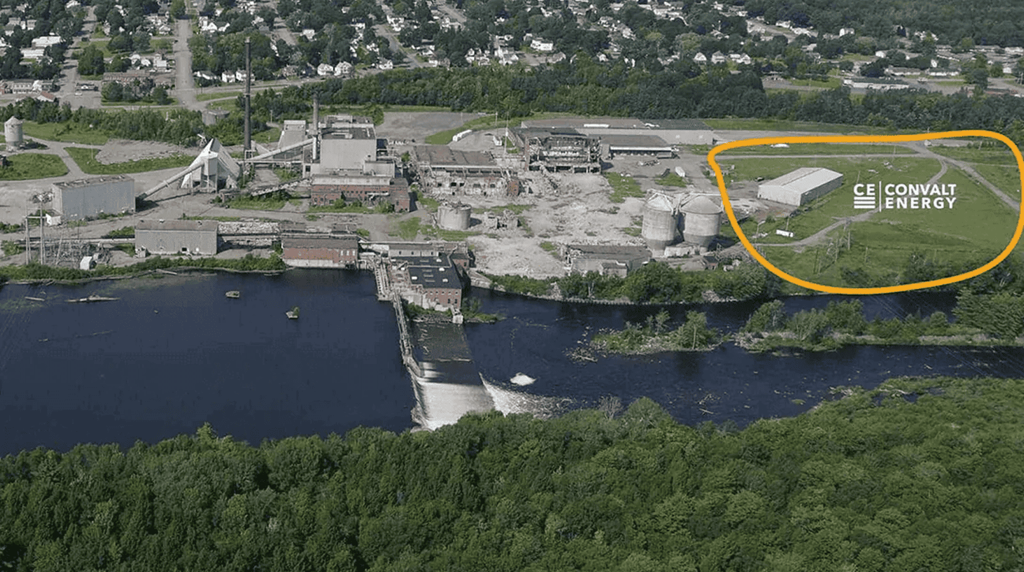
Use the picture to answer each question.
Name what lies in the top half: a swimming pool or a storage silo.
storage silo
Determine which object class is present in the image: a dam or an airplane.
dam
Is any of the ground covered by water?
Yes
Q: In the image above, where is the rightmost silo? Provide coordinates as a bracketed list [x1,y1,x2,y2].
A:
[682,197,724,251]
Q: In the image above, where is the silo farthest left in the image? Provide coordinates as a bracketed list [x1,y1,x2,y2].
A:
[1,114,24,148]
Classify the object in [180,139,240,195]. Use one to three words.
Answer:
house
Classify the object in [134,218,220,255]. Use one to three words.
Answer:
building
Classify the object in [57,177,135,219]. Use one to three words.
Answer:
building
